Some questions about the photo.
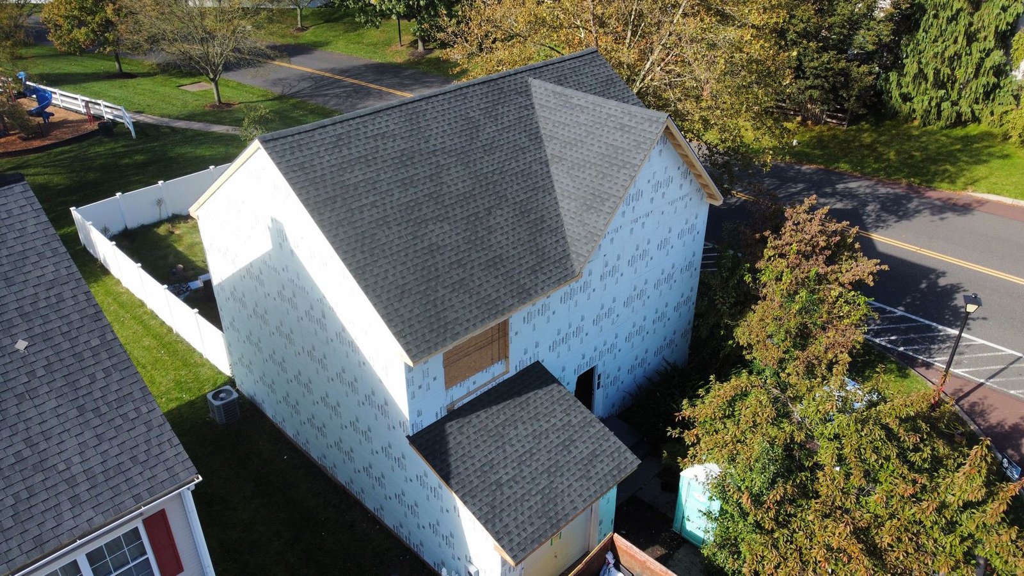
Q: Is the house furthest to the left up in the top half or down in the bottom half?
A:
bottom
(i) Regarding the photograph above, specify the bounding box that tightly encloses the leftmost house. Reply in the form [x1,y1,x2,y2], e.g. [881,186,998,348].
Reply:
[0,174,215,576]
